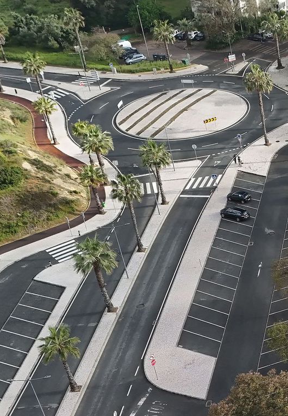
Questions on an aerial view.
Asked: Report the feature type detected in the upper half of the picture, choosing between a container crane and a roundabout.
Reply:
roundabout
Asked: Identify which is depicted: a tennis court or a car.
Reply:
car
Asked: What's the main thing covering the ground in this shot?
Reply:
paved ground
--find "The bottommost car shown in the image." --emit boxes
[217,206,252,224]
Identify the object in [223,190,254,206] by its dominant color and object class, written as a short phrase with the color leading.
black car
